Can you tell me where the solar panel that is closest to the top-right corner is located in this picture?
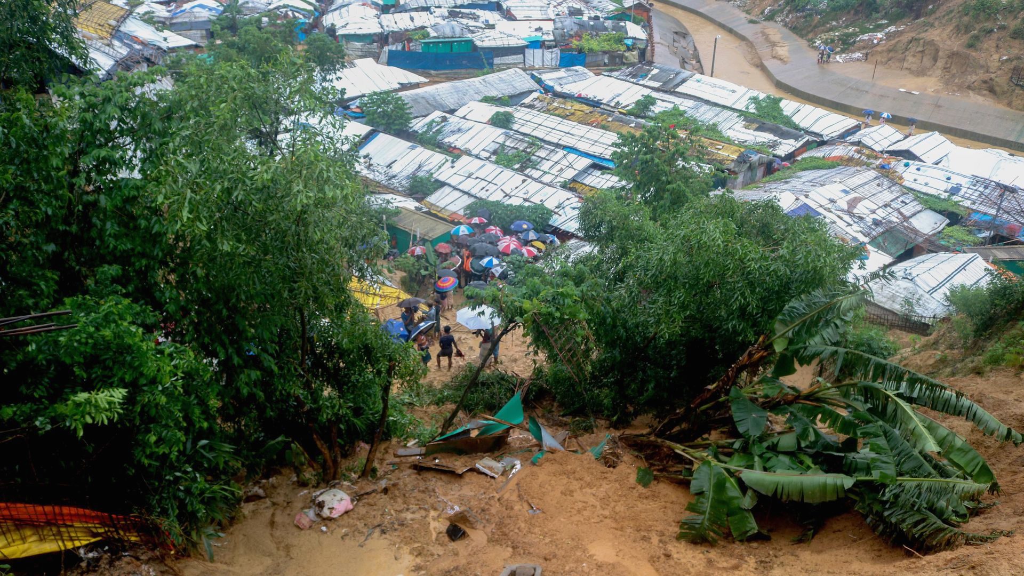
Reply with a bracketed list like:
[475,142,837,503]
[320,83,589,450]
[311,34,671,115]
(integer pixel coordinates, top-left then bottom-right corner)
[943,181,965,197]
